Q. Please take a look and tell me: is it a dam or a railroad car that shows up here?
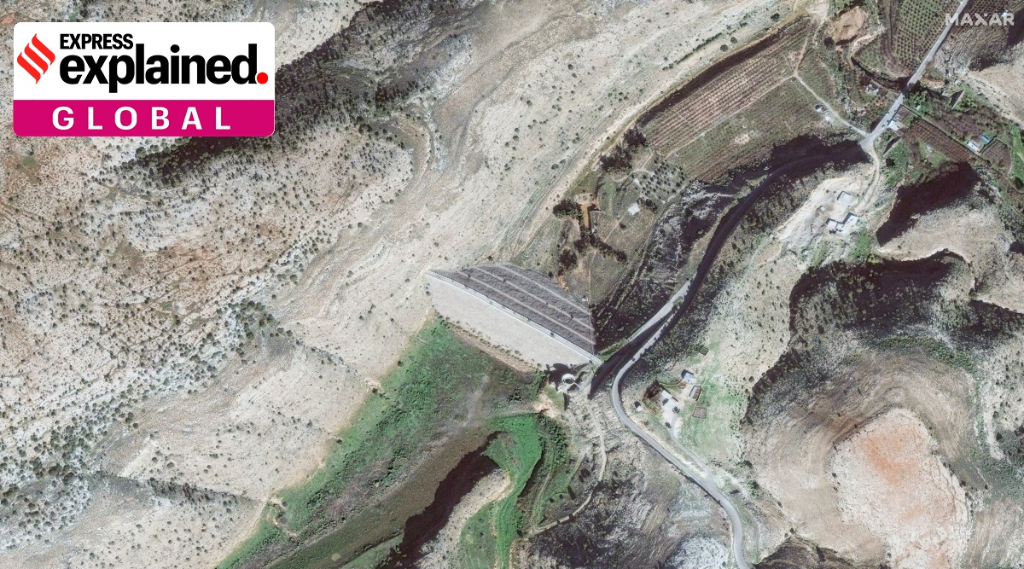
dam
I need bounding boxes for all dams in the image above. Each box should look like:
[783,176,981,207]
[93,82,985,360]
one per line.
[425,263,601,367]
